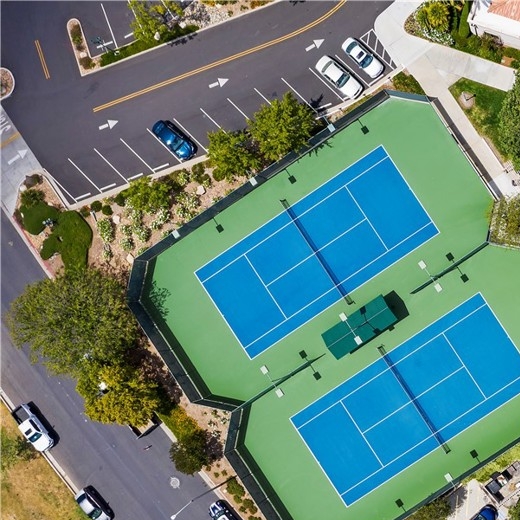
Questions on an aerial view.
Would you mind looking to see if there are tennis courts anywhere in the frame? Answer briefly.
Yes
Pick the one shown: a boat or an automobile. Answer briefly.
automobile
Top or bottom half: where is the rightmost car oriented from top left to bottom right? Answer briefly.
top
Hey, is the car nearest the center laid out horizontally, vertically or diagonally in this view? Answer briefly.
diagonally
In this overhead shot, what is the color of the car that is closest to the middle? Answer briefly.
blue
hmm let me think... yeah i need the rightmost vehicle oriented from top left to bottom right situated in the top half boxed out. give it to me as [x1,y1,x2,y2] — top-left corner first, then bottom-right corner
[341,37,382,79]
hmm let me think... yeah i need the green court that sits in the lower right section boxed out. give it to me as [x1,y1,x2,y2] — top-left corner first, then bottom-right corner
[237,245,520,520]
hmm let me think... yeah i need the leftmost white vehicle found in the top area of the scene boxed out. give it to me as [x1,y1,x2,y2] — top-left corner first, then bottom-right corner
[315,56,359,99]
